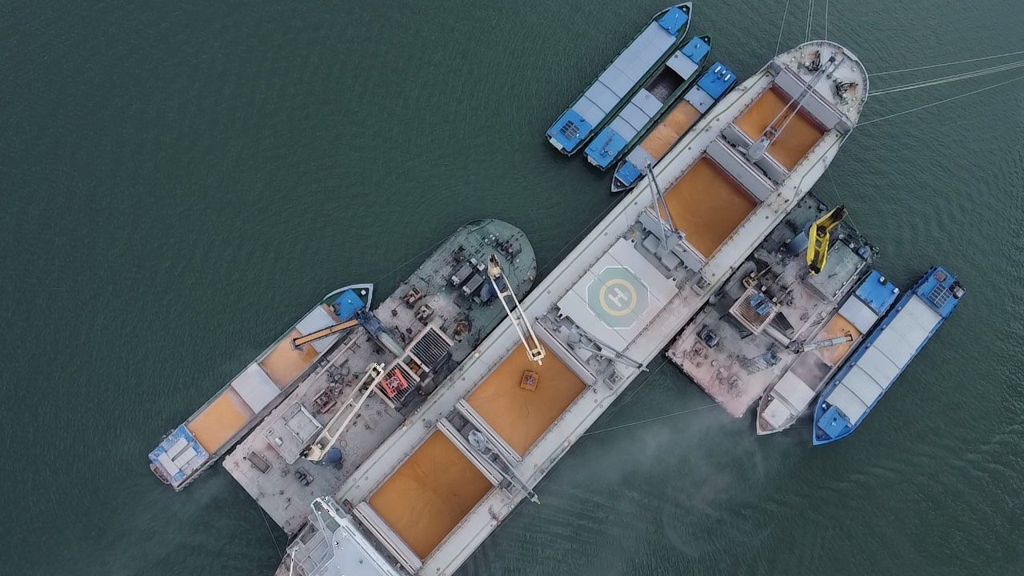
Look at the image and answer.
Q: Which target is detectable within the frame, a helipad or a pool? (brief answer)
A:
helipad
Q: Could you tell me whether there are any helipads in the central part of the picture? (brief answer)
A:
Yes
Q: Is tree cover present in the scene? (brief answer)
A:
No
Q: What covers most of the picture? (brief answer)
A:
water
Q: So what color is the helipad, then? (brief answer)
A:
white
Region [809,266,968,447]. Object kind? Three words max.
boat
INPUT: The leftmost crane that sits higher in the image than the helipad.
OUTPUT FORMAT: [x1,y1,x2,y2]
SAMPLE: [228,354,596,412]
[645,161,685,258]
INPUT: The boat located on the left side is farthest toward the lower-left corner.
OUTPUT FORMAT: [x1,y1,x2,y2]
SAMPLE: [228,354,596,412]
[150,466,169,486]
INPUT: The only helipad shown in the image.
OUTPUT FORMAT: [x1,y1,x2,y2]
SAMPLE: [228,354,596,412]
[581,258,658,334]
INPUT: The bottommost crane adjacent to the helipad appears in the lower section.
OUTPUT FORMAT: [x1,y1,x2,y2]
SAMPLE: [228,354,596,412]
[563,327,649,373]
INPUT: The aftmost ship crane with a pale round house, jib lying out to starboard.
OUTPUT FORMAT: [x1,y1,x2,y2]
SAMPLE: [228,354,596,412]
[467,431,539,503]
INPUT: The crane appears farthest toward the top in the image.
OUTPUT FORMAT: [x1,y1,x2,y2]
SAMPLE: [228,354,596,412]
[742,58,843,167]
